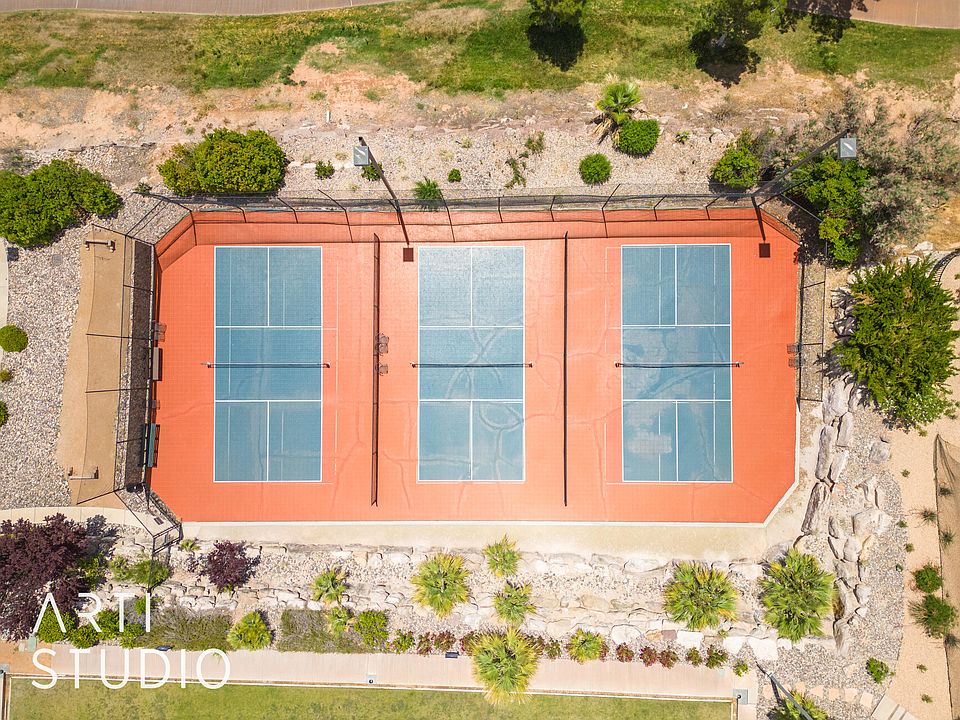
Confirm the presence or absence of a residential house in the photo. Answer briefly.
No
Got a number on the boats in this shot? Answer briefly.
0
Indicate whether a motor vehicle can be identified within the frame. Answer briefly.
No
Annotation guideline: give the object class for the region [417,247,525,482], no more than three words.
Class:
sports court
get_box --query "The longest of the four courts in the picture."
[146,204,802,527]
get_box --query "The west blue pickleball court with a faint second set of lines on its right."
[214,247,322,483]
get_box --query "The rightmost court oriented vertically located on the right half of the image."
[622,244,732,483]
